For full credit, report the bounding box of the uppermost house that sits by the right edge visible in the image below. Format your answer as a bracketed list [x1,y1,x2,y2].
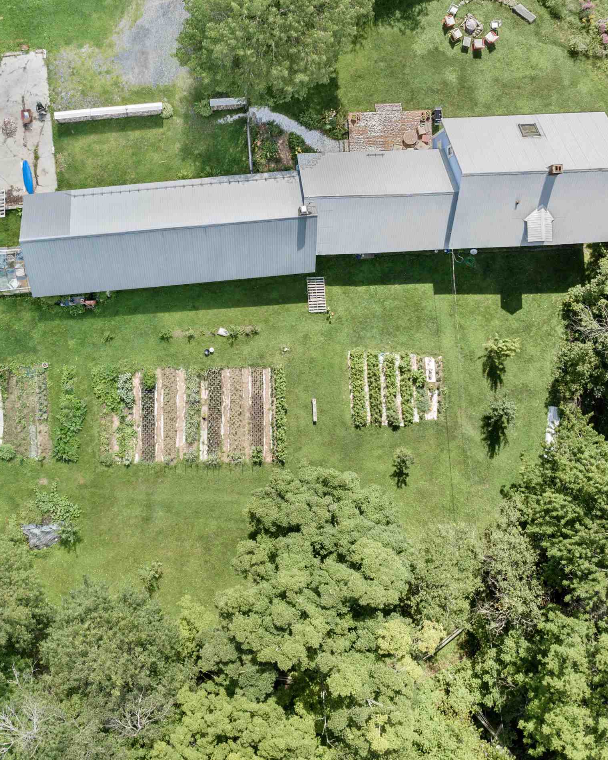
[431,112,608,251]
